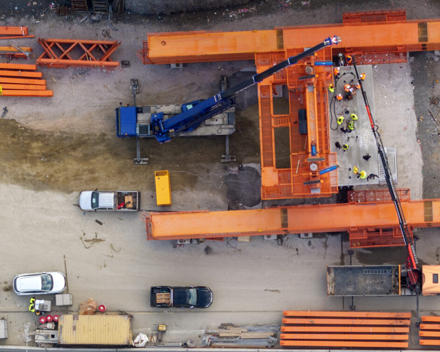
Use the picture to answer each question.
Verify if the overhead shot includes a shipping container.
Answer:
Yes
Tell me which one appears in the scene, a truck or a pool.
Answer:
truck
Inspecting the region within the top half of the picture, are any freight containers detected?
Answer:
No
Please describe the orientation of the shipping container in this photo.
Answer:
from side to side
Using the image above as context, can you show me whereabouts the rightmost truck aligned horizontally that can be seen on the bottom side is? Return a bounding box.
[150,283,213,310]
